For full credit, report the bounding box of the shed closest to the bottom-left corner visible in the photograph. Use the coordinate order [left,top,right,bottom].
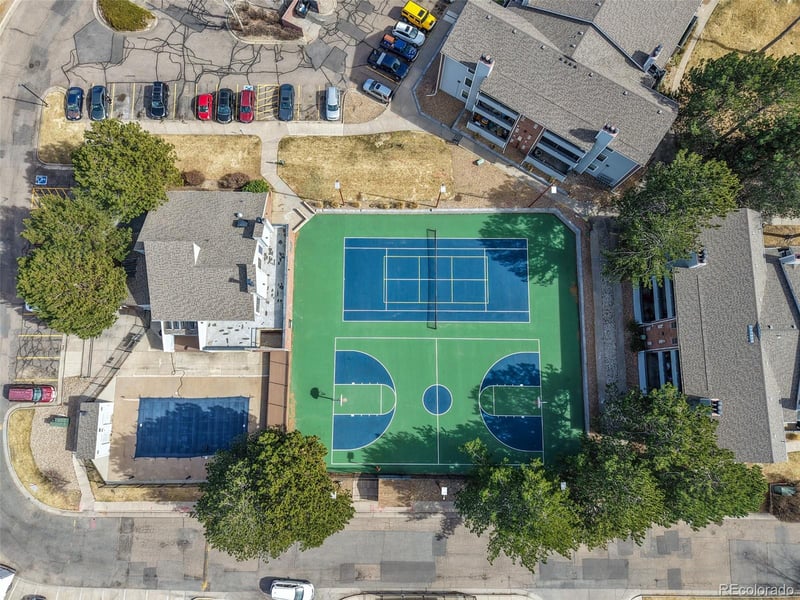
[77,402,113,463]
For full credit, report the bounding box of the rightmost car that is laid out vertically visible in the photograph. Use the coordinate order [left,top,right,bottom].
[323,85,341,122]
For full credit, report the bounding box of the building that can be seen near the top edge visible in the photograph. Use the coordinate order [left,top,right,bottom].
[431,0,705,190]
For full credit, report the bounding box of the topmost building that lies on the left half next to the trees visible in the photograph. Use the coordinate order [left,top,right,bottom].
[119,191,288,354]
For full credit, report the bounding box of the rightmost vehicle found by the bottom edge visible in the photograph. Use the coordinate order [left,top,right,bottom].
[270,578,315,600]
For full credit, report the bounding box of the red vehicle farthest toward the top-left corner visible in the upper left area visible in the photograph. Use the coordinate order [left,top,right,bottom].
[195,92,213,123]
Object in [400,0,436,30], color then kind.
yellow car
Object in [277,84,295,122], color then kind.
blue car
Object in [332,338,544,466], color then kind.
blue basketball court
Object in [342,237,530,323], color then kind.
blue tennis court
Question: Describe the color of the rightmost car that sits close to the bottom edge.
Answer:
white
